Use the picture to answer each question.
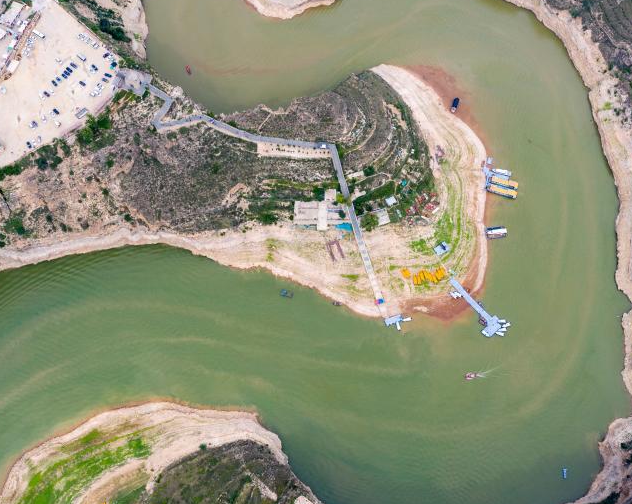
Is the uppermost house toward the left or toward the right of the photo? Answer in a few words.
left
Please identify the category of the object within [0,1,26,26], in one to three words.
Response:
house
